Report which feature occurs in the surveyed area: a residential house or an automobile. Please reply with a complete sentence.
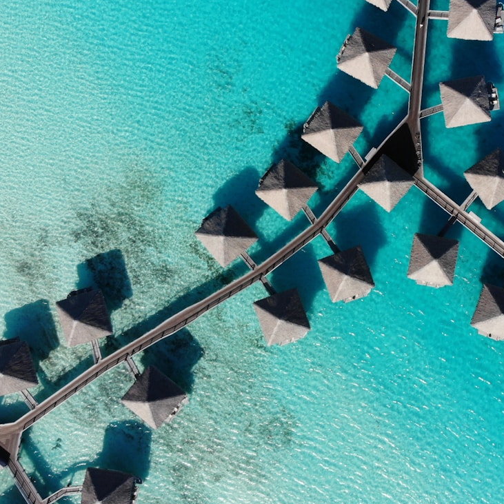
It is a residential house that can be seen here.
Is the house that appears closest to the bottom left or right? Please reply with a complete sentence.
You can find the house that appears closest to the bottom on the left side of the picture.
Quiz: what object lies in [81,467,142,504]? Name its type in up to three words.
house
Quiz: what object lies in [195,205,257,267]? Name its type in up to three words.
house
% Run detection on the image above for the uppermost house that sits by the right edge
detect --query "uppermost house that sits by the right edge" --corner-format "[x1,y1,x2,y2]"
[447,0,504,42]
